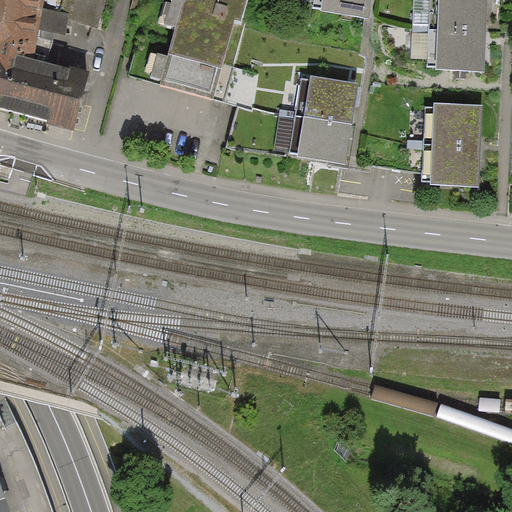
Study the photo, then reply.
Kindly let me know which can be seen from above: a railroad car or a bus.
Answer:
railroad car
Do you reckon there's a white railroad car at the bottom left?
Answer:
No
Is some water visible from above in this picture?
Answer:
No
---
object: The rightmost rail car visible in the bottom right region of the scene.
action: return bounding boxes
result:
[435,404,512,444]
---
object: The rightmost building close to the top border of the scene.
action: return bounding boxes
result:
[437,0,489,72]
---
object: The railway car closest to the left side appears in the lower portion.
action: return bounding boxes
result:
[369,386,440,418]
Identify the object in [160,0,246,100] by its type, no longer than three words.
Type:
building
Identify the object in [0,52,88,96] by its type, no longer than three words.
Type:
house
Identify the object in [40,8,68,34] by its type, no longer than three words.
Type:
shed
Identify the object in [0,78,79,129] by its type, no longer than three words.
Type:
house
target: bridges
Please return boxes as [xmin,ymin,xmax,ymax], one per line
[0,380,110,425]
